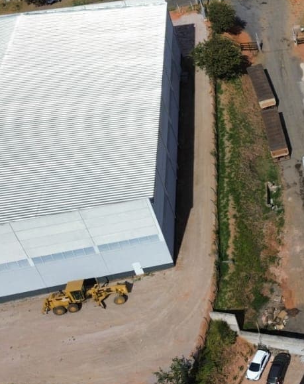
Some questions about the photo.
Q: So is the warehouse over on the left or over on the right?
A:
left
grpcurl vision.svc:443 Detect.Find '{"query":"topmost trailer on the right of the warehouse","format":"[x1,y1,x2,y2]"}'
[248,66,276,113]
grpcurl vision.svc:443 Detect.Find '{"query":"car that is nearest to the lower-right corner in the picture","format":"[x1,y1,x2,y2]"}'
[265,354,286,382]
